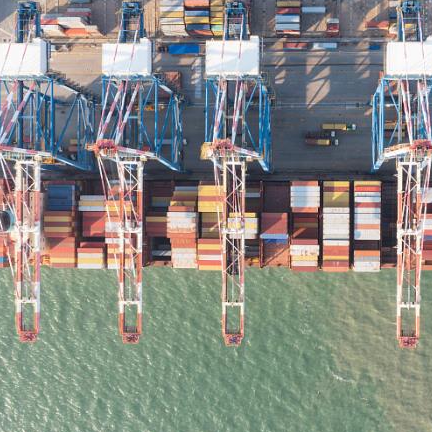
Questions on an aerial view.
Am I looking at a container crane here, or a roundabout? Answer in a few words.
container crane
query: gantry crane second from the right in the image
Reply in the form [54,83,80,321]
[204,1,273,345]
